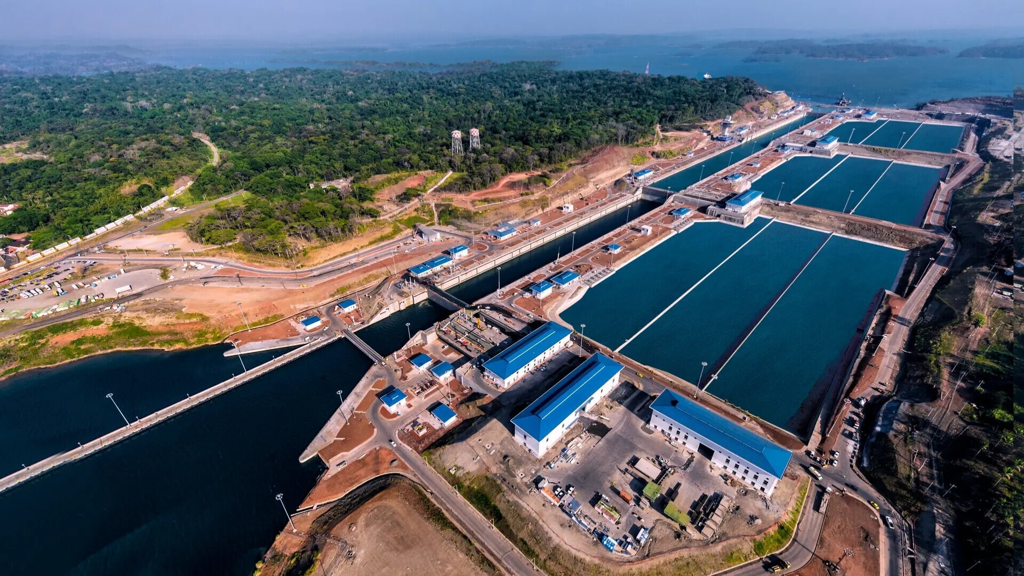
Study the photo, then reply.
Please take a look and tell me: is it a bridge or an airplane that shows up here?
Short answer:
bridge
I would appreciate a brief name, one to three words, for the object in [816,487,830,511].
vehicle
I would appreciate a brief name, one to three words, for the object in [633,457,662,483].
building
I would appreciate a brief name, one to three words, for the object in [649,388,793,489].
building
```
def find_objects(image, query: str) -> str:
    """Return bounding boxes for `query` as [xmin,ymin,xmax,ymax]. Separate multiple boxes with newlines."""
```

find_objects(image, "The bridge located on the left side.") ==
[340,327,390,364]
